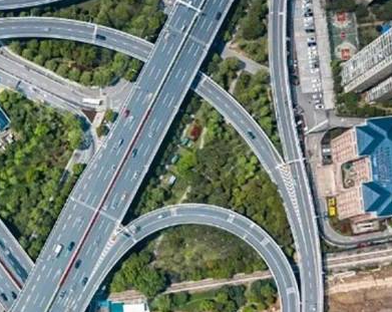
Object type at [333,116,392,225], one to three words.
building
